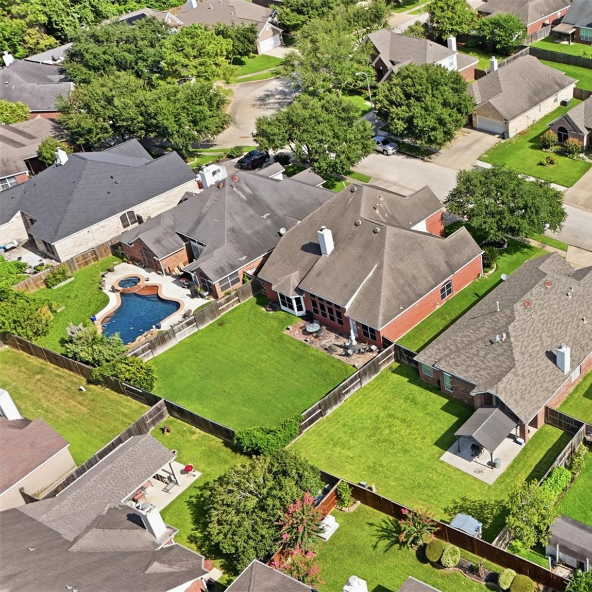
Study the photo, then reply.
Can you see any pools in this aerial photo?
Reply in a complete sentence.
Yes, a pool appears in the view.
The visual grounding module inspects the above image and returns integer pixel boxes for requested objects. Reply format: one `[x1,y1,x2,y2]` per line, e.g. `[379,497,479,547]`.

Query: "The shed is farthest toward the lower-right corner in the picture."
[545,510,592,570]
